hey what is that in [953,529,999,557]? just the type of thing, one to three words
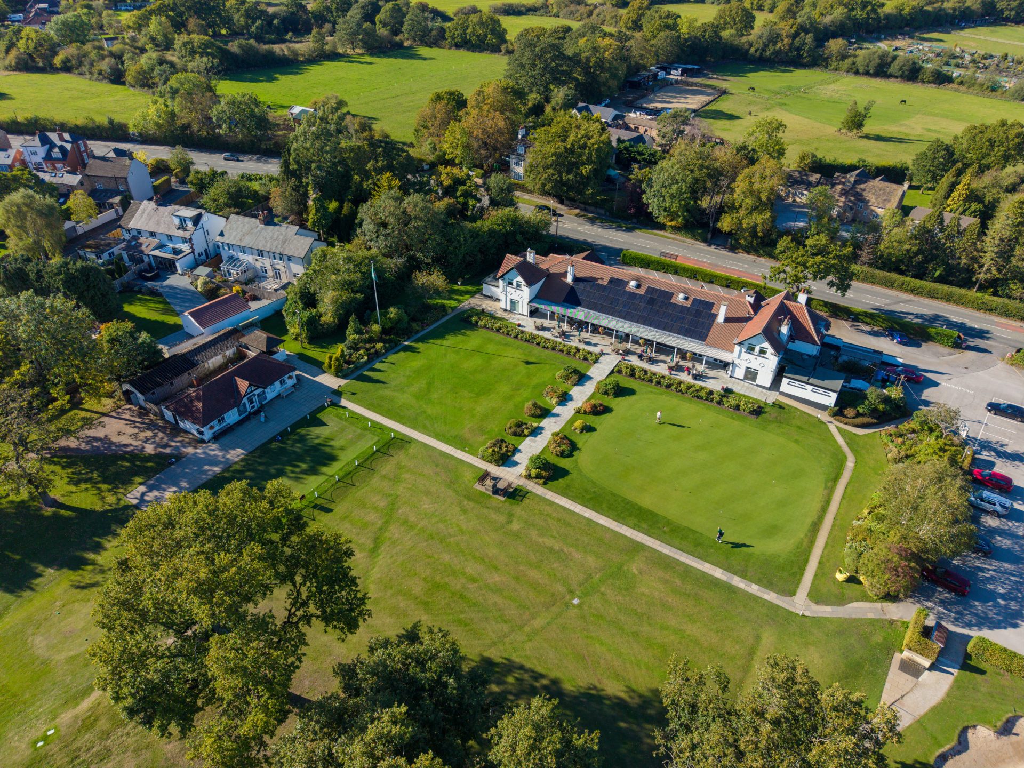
car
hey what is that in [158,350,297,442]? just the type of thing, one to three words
building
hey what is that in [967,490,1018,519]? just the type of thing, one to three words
car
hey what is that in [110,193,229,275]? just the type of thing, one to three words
house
